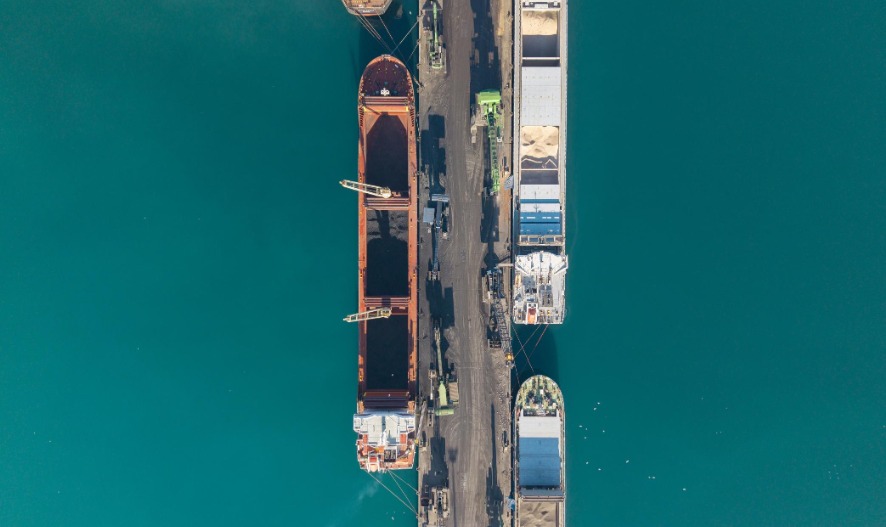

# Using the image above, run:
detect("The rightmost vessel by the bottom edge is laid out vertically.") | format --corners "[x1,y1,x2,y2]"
[512,375,566,527]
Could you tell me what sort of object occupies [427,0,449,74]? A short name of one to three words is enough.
crane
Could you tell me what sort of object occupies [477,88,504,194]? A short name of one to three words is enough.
crane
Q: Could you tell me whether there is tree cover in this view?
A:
No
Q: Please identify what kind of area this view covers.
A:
port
